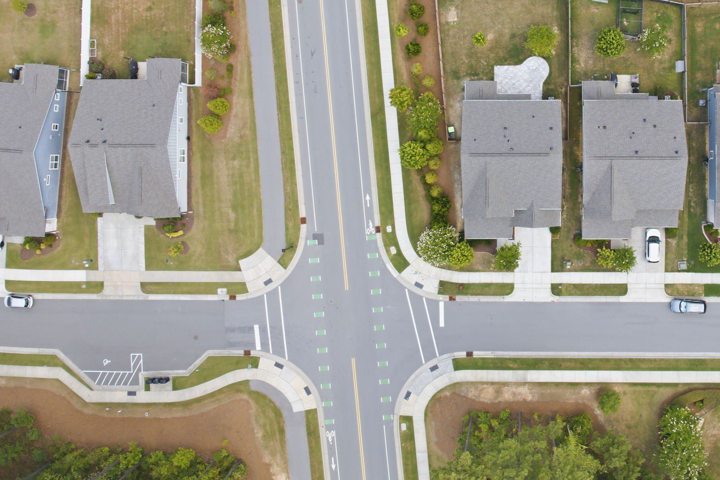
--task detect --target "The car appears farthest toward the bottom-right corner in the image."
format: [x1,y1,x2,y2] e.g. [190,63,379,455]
[671,299,708,316]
